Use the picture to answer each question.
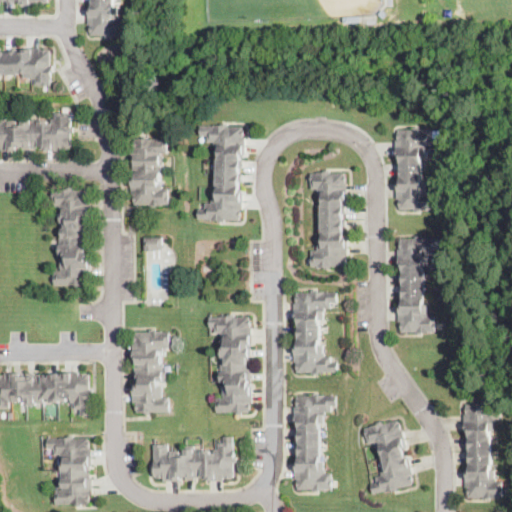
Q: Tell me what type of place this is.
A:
residential area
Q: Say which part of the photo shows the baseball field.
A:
top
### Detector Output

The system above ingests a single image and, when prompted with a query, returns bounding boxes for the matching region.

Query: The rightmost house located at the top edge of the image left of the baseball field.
[84,0,120,36]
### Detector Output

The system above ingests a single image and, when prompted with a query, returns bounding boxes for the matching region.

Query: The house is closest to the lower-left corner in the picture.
[44,437,92,506]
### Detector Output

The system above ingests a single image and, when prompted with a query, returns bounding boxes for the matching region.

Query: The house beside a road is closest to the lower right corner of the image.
[462,404,500,500]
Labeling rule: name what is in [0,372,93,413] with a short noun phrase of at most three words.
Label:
house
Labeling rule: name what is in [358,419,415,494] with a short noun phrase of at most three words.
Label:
house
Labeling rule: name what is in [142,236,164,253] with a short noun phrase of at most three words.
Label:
building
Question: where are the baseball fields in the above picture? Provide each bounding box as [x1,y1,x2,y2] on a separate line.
[208,0,404,28]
